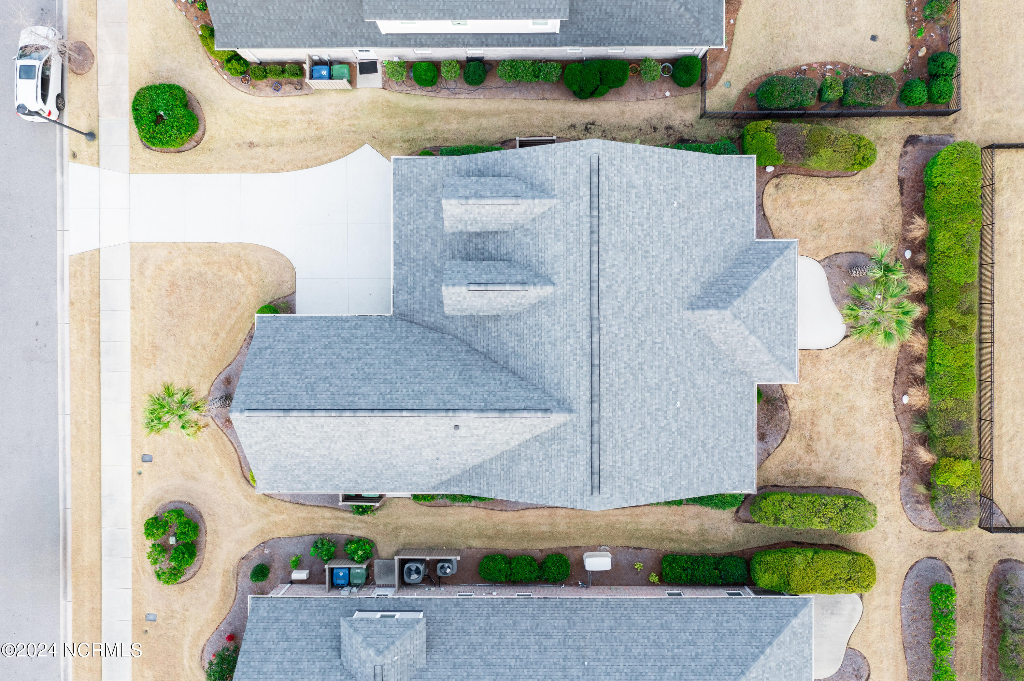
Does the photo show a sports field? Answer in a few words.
No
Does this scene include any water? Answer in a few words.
No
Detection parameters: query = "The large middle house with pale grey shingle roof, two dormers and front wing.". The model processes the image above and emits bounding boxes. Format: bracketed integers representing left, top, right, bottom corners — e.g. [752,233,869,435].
[231,138,800,511]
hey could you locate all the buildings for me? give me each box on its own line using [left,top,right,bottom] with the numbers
[234,549,813,681]
[231,138,800,511]
[205,0,725,87]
